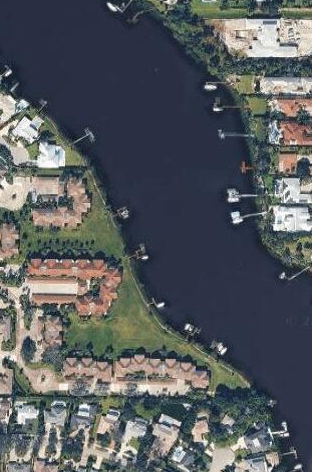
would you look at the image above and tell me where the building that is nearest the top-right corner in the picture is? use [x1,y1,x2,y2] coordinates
[240,20,295,57]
